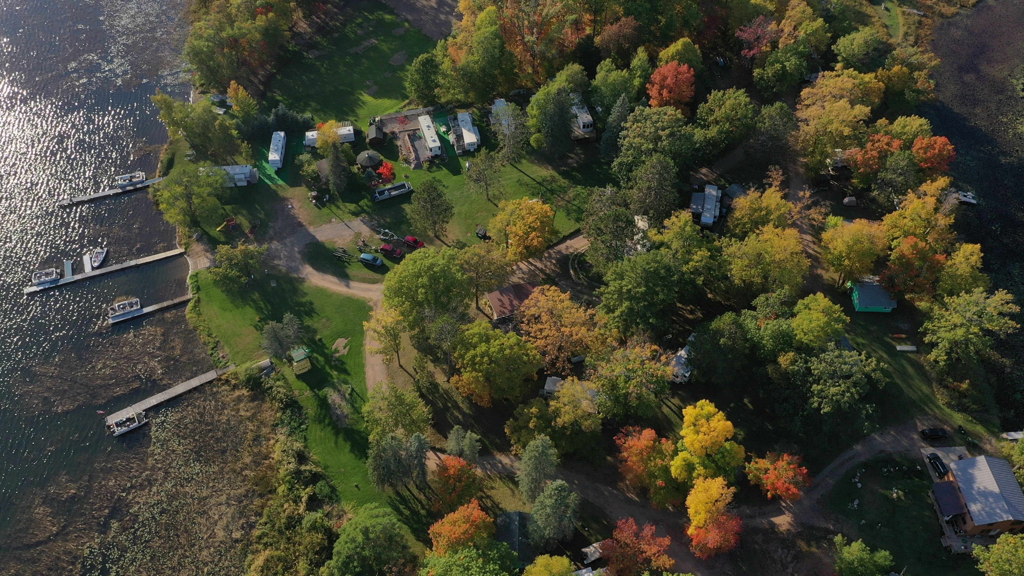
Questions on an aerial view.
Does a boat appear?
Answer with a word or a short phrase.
Yes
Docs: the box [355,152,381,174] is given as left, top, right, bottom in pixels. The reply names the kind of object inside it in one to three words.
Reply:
gazebo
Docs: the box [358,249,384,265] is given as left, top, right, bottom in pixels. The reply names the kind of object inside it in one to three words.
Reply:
car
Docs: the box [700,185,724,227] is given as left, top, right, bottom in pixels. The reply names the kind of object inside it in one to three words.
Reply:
trailer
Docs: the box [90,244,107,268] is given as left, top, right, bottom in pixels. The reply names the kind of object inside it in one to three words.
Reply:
boat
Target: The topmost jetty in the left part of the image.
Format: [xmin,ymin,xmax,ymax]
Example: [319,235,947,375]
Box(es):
[60,178,161,206]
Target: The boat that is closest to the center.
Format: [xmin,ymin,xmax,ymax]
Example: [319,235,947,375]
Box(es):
[373,181,414,201]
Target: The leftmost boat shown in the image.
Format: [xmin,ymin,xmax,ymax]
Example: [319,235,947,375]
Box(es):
[31,266,62,283]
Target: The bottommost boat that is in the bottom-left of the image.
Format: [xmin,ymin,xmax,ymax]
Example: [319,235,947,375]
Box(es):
[109,409,149,436]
